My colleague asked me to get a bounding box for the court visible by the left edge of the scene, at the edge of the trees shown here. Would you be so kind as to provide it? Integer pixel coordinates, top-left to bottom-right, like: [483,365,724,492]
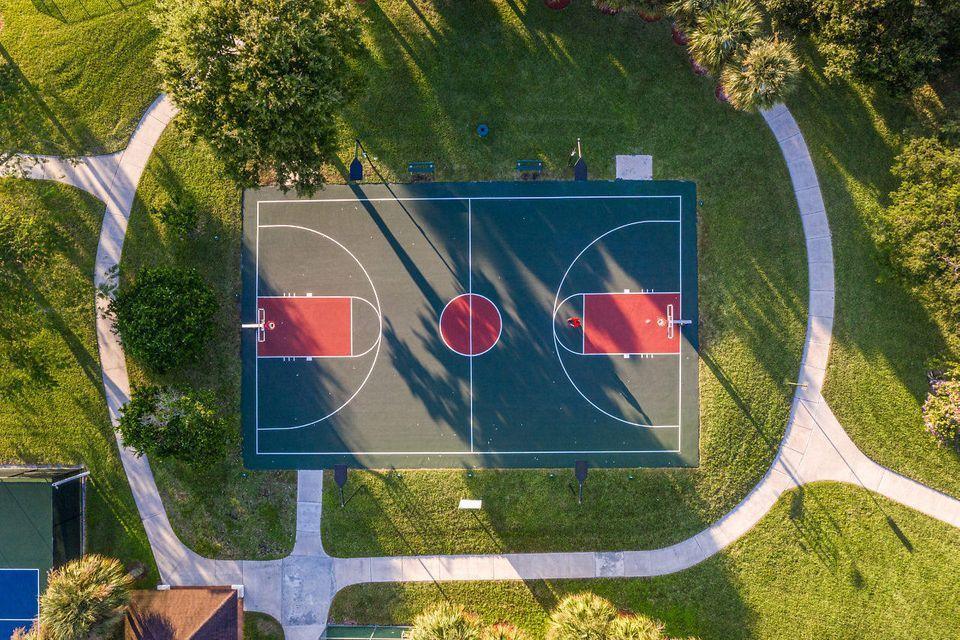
[0,469,81,640]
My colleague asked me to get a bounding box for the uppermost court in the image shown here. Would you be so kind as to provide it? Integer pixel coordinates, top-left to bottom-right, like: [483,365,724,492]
[242,181,699,470]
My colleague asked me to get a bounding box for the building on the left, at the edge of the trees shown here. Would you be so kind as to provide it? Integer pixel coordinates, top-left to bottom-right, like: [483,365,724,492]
[124,585,245,640]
